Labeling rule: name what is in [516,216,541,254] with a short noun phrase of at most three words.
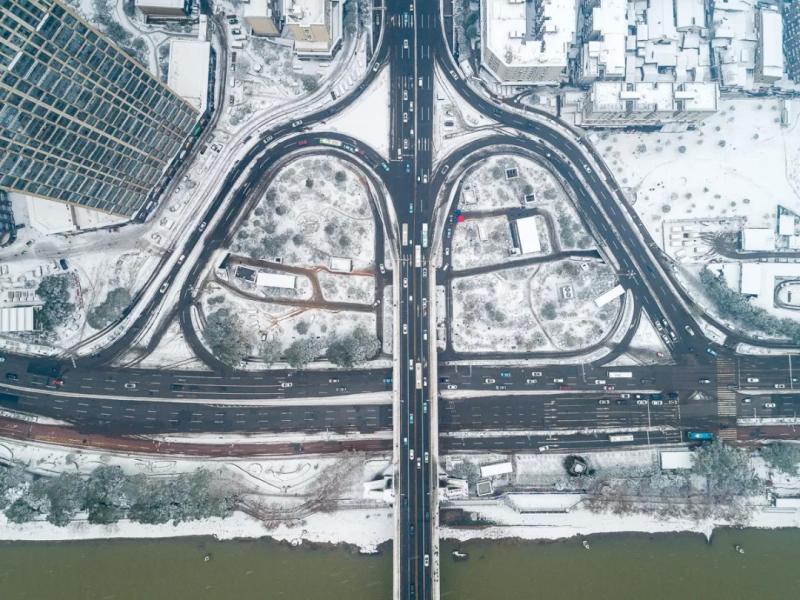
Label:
building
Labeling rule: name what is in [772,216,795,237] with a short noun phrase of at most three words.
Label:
building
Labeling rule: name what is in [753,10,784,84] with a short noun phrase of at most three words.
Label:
house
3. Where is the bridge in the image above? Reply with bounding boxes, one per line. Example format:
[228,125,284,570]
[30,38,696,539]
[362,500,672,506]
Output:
[393,205,438,600]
